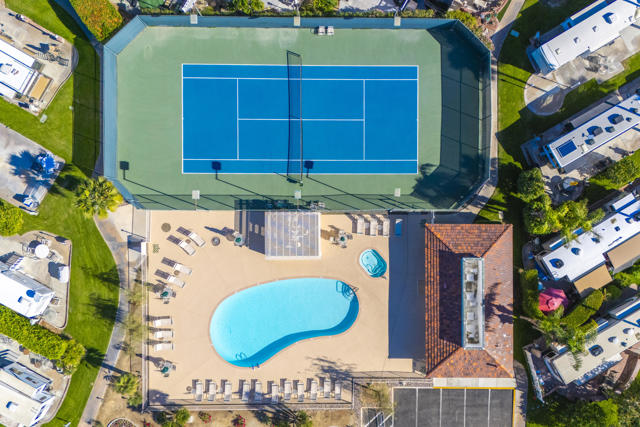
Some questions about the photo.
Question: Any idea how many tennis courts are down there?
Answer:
1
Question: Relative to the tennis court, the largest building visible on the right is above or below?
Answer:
below it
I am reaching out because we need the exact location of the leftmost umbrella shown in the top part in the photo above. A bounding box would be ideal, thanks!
[44,157,62,172]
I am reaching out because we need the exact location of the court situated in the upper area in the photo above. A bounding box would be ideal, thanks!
[114,26,482,209]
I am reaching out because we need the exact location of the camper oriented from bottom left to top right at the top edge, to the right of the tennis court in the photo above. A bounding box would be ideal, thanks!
[529,0,640,76]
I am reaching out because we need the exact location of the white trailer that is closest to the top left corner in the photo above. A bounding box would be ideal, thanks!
[0,36,51,101]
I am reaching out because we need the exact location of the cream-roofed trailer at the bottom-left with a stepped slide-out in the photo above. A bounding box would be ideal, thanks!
[0,354,59,426]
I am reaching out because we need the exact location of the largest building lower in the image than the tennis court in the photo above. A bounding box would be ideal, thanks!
[424,223,514,379]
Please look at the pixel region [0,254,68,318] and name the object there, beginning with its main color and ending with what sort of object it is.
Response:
white trailer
